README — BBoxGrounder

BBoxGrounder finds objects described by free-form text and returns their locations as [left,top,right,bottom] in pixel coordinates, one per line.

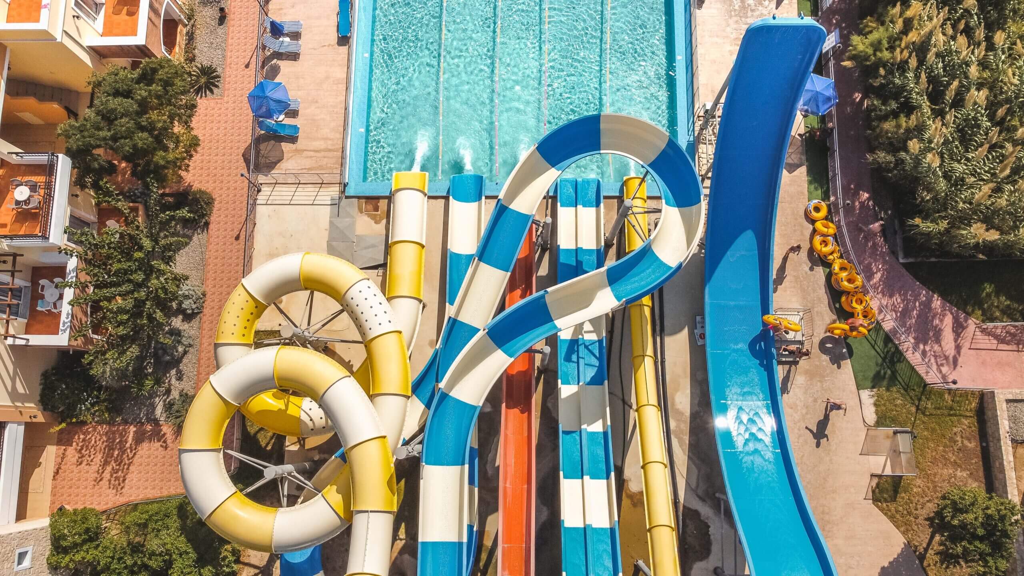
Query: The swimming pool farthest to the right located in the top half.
[366,0,677,181]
